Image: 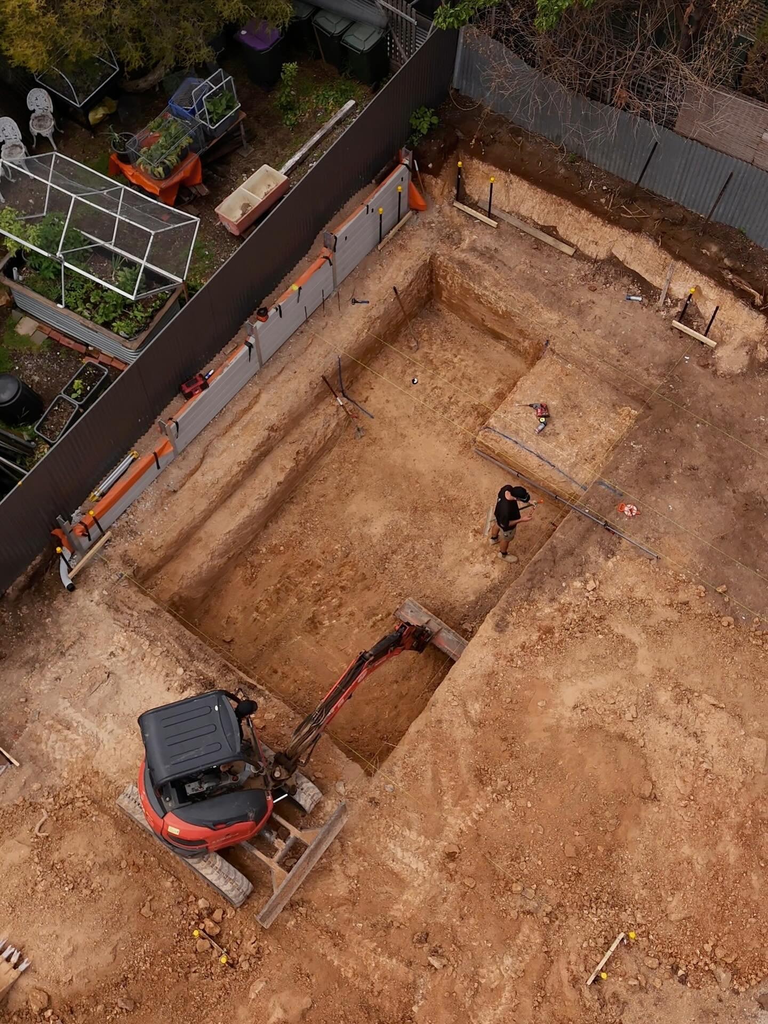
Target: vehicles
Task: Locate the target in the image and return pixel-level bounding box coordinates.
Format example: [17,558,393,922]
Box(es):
[114,591,474,927]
